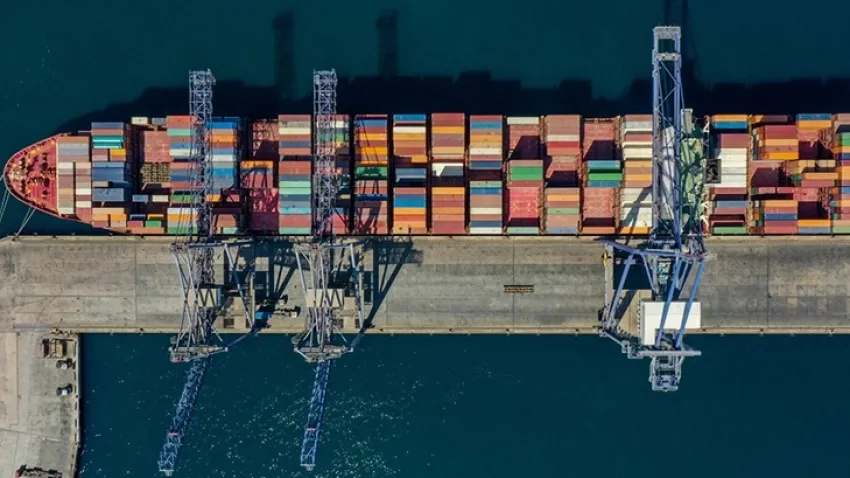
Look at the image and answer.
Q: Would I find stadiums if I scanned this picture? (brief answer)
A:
No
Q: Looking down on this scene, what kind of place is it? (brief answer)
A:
port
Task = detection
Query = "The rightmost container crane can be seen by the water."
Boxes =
[590,26,718,390]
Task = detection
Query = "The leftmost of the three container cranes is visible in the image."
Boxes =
[157,69,263,469]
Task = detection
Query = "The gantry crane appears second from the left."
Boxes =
[288,69,369,469]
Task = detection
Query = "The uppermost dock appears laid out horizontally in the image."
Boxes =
[0,237,850,332]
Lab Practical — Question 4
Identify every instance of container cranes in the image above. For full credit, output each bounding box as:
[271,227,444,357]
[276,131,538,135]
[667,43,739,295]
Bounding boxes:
[590,26,718,390]
[157,69,263,469]
[288,69,369,469]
